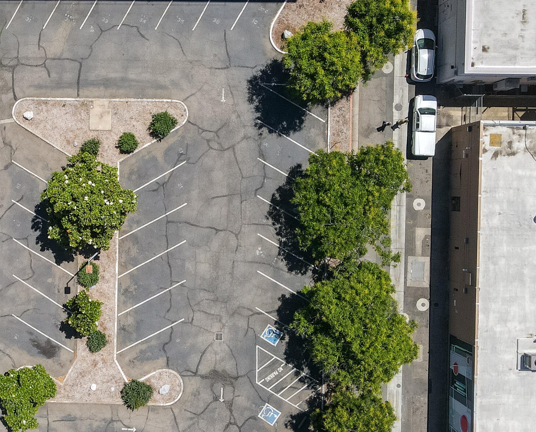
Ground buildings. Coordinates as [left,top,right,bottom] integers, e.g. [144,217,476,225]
[446,121,536,432]
[435,0,536,89]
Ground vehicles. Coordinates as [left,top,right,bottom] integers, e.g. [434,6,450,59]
[412,94,442,159]
[412,29,440,83]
